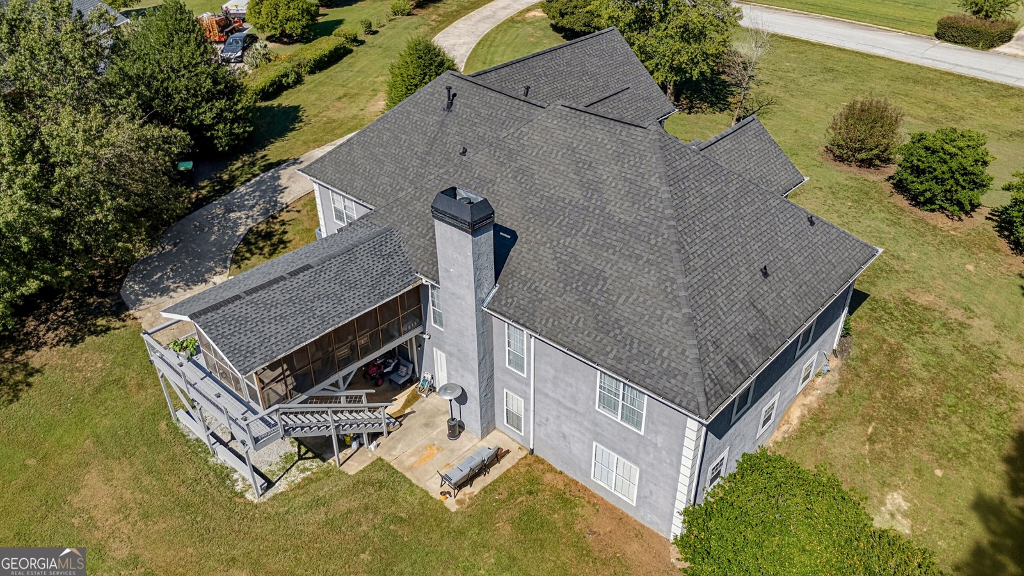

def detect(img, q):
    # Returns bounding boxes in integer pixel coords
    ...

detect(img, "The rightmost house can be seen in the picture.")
[294,29,885,545]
